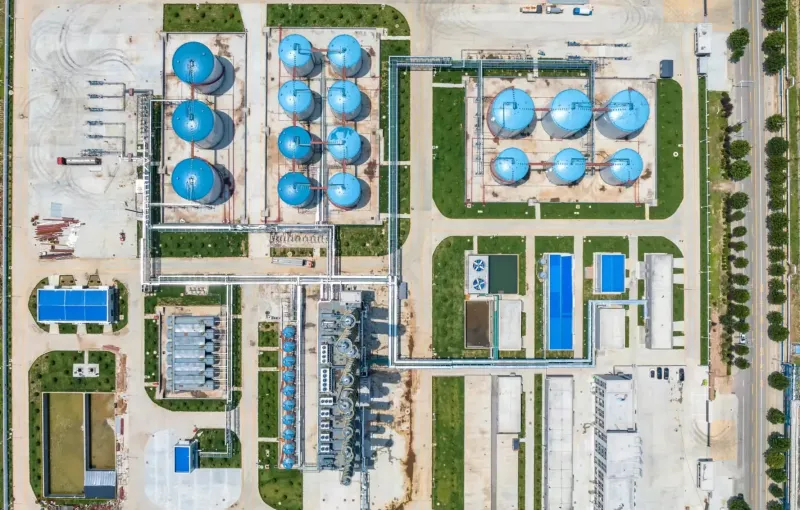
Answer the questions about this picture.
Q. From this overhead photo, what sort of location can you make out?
industrial area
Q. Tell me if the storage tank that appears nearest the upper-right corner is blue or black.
blue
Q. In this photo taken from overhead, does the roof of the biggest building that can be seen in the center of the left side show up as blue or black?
blue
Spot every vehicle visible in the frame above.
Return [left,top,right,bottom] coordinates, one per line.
[56,157,105,166]
[678,368,685,381]
[545,5,562,16]
[739,333,745,344]
[520,5,543,16]
[572,7,592,17]
[656,367,663,379]
[663,368,670,380]
[650,369,655,379]
[273,258,316,268]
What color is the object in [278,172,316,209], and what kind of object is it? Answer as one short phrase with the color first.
blue storage tank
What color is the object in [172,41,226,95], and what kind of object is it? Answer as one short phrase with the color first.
blue storage tank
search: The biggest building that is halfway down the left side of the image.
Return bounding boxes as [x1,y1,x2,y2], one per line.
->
[38,284,120,322]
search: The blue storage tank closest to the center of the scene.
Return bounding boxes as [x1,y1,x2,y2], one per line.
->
[327,172,363,209]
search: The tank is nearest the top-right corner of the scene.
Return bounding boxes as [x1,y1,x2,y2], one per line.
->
[595,88,650,138]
